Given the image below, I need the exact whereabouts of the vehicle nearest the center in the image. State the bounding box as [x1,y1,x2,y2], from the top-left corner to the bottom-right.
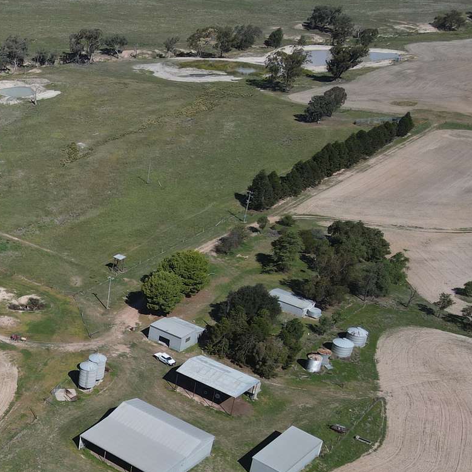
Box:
[151,349,179,366]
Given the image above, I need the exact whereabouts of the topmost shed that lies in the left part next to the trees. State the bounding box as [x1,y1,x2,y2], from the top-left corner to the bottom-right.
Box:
[149,312,206,352]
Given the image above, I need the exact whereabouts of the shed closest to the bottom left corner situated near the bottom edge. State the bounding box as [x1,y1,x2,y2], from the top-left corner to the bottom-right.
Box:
[78,397,216,472]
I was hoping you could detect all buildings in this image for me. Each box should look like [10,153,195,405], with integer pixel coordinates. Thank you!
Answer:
[149,312,206,352]
[175,355,259,413]
[266,286,317,317]
[250,423,326,472]
[78,397,216,472]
